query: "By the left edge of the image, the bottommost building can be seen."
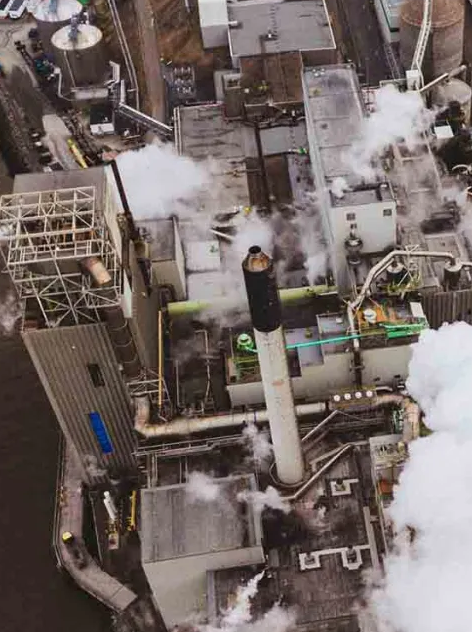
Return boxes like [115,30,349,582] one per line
[2,163,179,475]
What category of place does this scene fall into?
industrial area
